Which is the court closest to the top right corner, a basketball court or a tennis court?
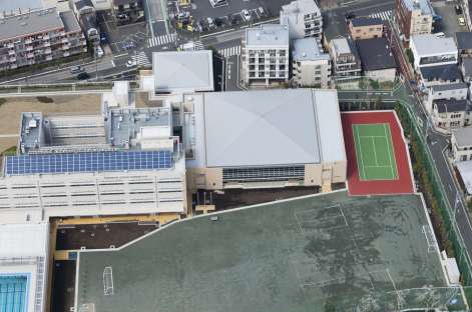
tennis court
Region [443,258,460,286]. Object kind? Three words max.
shed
